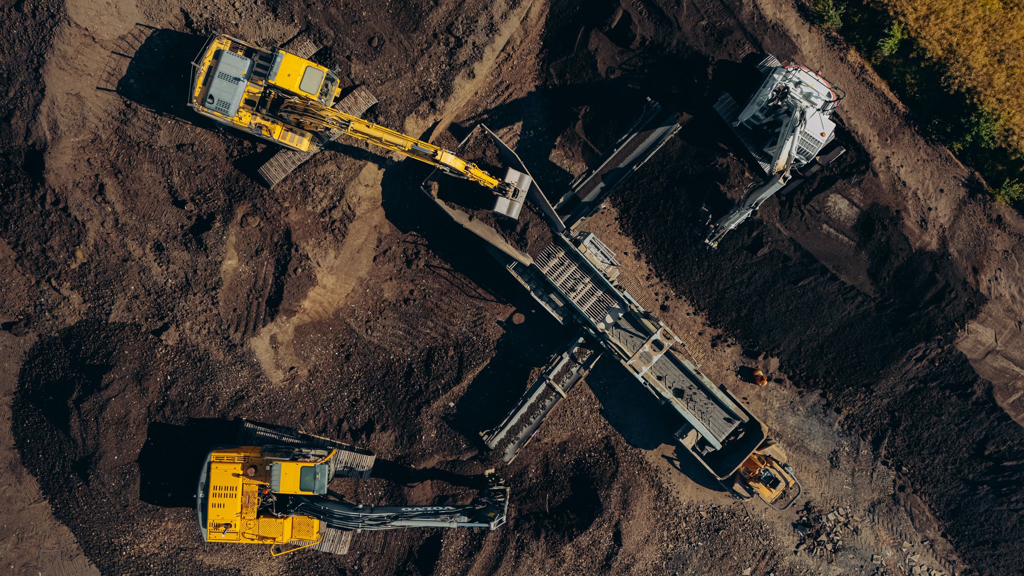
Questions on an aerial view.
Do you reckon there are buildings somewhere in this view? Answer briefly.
No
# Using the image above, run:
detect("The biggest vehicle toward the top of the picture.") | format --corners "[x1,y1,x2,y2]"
[187,30,535,222]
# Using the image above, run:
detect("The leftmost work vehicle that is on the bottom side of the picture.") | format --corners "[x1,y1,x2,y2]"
[193,417,510,556]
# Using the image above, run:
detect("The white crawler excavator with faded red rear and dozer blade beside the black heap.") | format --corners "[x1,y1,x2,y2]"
[696,53,848,247]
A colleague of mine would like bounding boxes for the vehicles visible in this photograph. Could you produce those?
[696,53,848,247]
[187,30,535,222]
[672,384,802,512]
[193,417,510,556]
